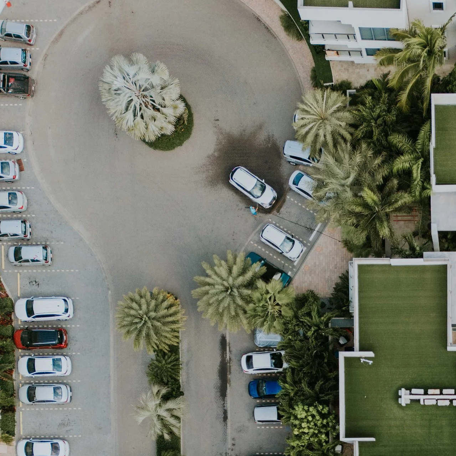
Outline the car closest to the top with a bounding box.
[0,17,36,48]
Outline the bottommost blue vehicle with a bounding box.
[252,376,281,400]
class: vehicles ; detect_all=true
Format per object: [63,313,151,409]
[225,162,280,211]
[14,325,70,352]
[252,376,281,400]
[7,243,55,268]
[0,17,36,48]
[0,73,35,101]
[282,162,332,203]
[0,49,31,73]
[240,349,280,374]
[15,295,74,323]
[19,353,73,378]
[275,136,330,169]
[20,381,73,406]
[255,404,280,425]
[0,132,28,157]
[0,161,23,184]
[256,220,306,263]
[0,191,29,215]
[17,436,71,456]
[0,219,32,243]
[241,247,297,290]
